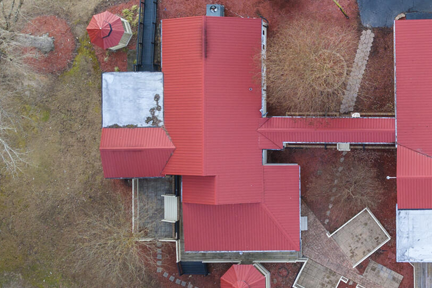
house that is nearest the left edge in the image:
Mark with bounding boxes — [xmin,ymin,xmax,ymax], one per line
[100,16,396,264]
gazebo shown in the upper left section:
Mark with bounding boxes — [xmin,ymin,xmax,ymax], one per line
[86,11,136,51]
